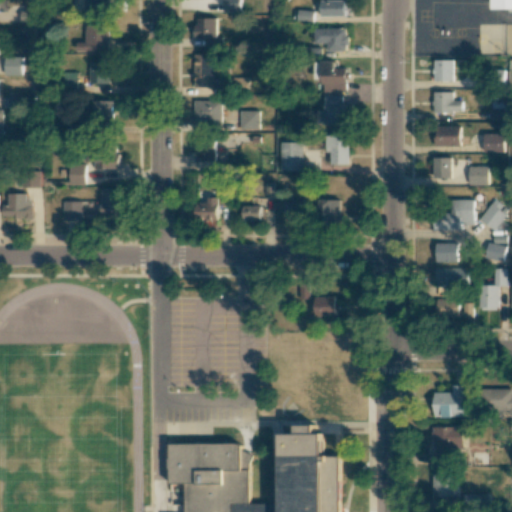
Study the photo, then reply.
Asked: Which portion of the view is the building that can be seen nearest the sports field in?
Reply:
bottom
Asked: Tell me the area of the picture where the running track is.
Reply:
bottom left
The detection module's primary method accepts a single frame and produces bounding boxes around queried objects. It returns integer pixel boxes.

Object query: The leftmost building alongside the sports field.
[168,443,272,512]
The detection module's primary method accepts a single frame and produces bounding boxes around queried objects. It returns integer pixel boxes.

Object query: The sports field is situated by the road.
[0,344,128,512]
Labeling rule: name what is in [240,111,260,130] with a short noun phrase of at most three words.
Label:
building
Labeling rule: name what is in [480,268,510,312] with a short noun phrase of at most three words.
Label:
house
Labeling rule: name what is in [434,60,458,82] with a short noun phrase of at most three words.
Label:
house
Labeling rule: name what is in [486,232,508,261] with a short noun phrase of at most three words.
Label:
building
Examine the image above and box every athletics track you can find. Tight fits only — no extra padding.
[0,283,142,512]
